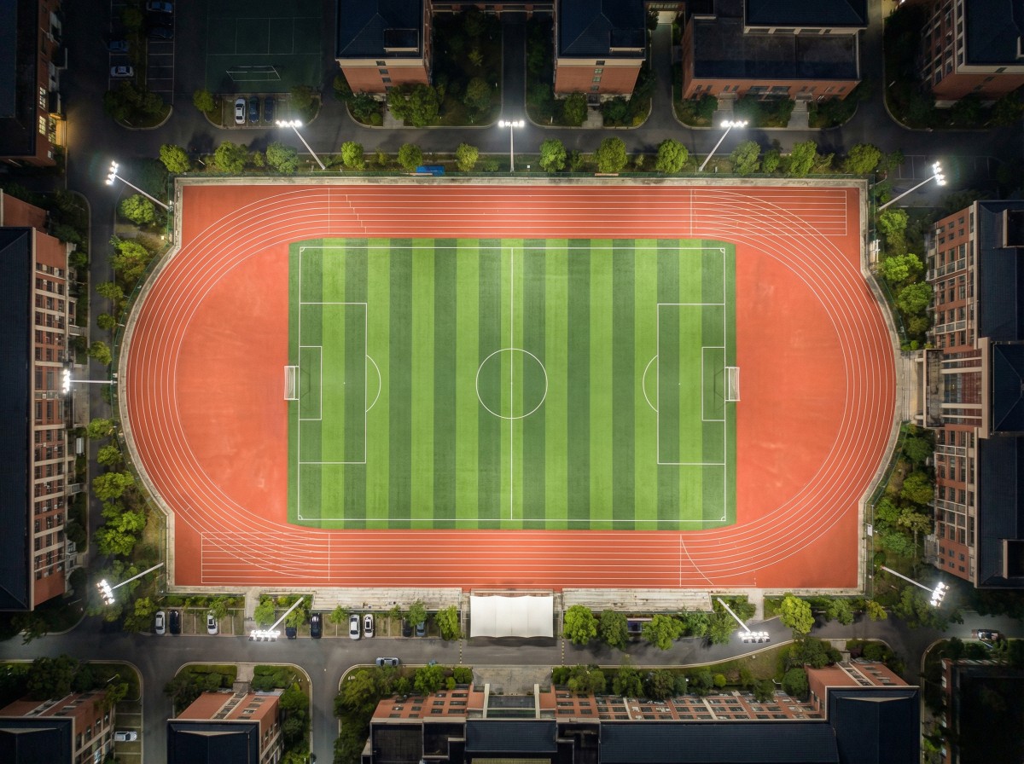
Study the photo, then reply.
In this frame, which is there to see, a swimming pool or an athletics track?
athletics track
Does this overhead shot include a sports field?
Yes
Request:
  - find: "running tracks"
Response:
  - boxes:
[126,185,896,588]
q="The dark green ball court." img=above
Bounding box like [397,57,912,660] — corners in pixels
[205,0,323,92]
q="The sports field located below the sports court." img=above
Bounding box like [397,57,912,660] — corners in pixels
[287,238,736,530]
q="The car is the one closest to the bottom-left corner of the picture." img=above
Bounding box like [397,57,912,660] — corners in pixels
[116,730,137,742]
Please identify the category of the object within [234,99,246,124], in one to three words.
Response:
vehicle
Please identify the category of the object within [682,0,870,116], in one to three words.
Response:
building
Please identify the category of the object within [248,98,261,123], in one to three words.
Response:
vehicle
